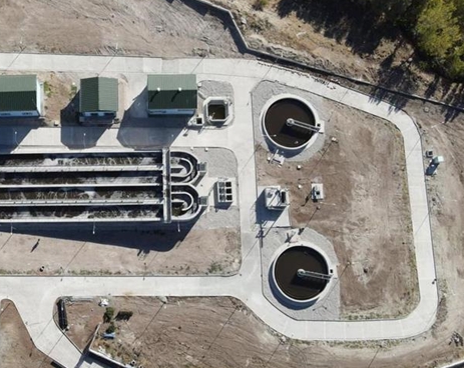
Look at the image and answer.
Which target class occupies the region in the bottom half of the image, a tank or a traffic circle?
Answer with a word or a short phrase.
tank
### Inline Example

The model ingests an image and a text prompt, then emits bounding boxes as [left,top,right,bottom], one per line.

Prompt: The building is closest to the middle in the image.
[148,74,198,114]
